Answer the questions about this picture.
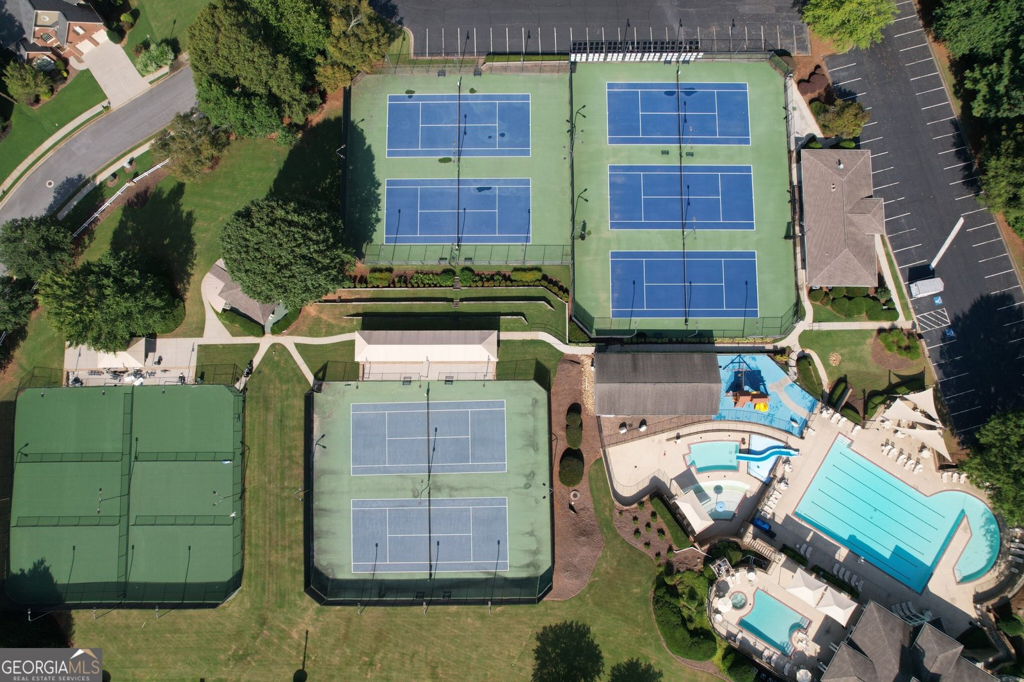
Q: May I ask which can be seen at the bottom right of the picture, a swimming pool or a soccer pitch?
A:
swimming pool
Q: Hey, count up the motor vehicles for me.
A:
1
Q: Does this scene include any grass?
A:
Yes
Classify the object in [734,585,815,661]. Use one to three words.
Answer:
swimming pool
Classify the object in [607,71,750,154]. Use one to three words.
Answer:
tennis court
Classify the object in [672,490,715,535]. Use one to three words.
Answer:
building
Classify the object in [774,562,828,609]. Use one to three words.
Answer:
tent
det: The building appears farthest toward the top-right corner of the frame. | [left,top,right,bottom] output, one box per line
[799,149,885,288]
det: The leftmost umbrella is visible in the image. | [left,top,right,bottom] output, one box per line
[716,596,733,613]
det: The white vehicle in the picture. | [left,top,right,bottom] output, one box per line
[907,278,947,301]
